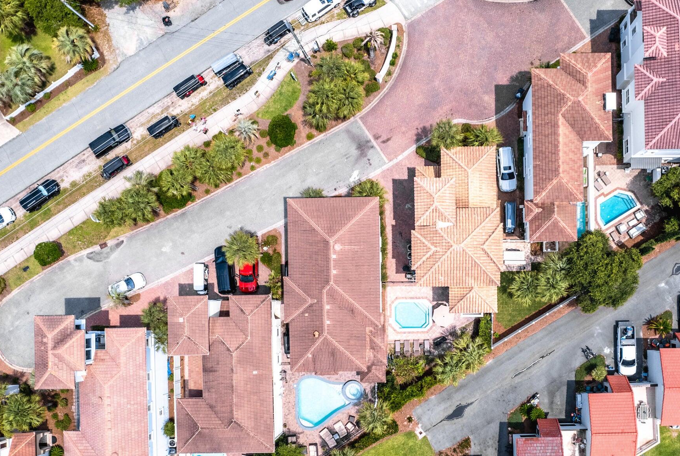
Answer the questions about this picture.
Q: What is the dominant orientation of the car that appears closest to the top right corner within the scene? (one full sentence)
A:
In this picture, the car that appears closest to the top right corner is oriented up and down.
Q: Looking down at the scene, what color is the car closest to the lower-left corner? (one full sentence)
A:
From above, the car closest to the lower-left corner appears white.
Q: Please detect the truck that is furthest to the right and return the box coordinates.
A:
[618,319,641,377]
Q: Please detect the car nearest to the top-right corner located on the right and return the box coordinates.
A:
[498,146,519,190]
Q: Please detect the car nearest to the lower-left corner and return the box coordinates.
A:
[103,270,146,298]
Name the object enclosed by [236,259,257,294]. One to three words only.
car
